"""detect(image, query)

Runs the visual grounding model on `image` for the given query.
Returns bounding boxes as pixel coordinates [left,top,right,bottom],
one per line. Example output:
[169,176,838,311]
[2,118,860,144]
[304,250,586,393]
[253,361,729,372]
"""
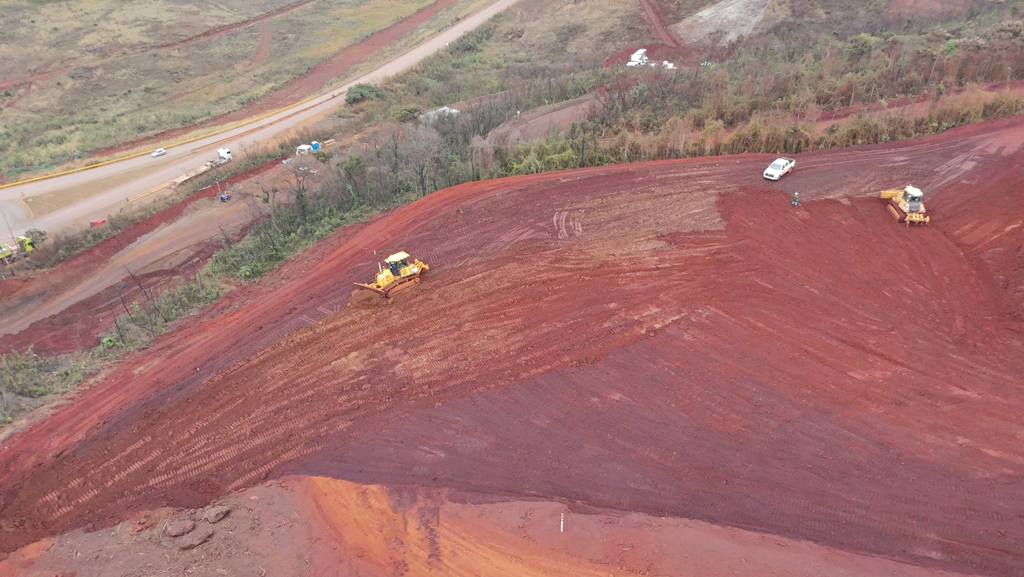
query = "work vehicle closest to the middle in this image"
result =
[361,252,433,310]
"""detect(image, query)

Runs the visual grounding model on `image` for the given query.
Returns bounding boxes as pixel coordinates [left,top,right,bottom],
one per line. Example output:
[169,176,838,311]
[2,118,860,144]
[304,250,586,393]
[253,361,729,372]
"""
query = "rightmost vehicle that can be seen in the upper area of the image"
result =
[880,184,926,223]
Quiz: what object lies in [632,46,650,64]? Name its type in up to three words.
vehicle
